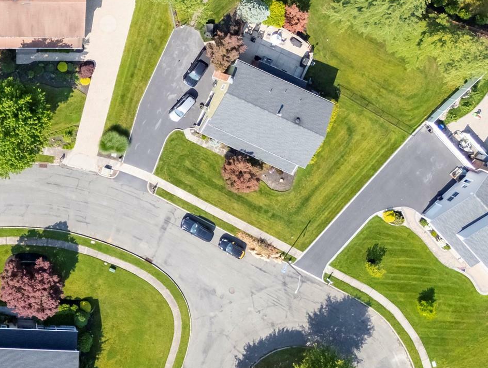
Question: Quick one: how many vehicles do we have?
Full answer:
In total, 4 vehicles can be seen.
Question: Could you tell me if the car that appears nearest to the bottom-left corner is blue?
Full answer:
Yes, blue is the color of the car that appears nearest to the bottom-left corner.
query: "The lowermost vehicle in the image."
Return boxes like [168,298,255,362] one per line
[216,236,246,259]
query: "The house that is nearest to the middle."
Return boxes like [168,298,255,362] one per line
[196,59,335,175]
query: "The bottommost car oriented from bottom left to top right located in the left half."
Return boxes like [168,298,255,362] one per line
[168,90,199,123]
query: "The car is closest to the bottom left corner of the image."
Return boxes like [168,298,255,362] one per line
[178,216,216,243]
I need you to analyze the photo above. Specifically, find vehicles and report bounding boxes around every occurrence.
[216,236,246,259]
[182,55,210,89]
[178,216,216,243]
[168,90,199,123]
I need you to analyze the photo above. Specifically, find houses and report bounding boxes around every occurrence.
[196,59,335,175]
[0,0,86,54]
[422,157,488,278]
[0,318,80,368]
